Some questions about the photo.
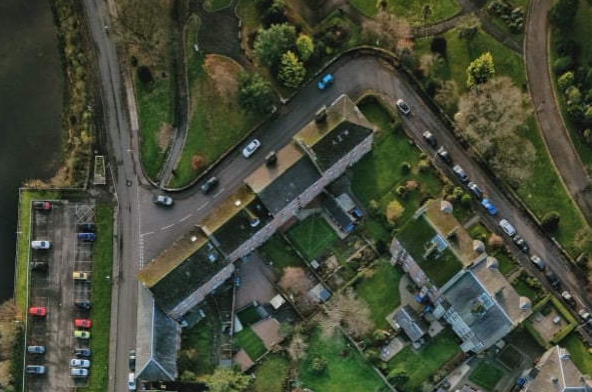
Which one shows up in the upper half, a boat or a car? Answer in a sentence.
The feature located in the upper half is a car.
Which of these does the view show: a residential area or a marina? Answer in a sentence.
The area seen from above is a residential area.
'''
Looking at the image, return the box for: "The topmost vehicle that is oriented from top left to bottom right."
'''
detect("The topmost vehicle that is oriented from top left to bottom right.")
[395,96,411,113]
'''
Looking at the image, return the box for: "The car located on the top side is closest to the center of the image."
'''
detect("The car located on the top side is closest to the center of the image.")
[242,139,260,155]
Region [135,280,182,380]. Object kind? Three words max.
house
